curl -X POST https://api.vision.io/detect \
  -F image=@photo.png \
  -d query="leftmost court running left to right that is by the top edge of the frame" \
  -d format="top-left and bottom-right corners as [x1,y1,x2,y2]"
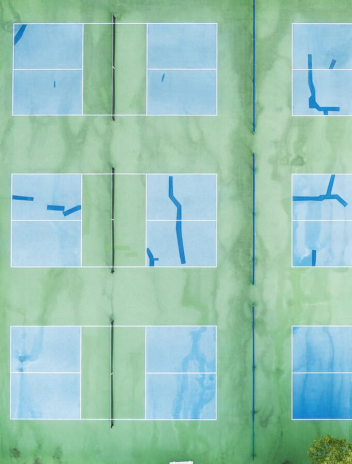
[12,23,217,116]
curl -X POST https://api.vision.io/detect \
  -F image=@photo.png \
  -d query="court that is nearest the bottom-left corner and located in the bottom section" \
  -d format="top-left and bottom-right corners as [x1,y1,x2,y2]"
[10,326,216,421]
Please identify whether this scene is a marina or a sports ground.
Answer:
sports ground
